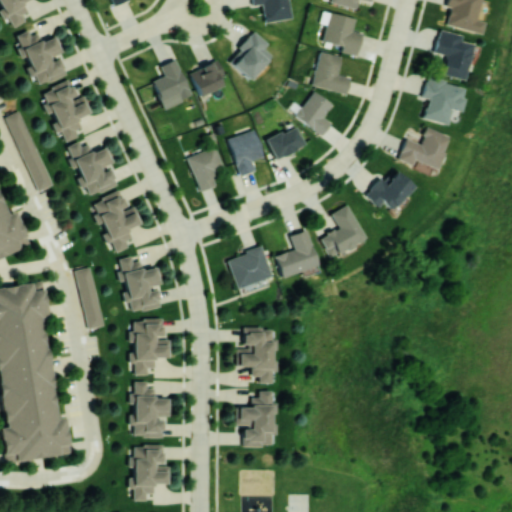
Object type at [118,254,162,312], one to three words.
house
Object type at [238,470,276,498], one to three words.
sports court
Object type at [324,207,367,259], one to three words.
house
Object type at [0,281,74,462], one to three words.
building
